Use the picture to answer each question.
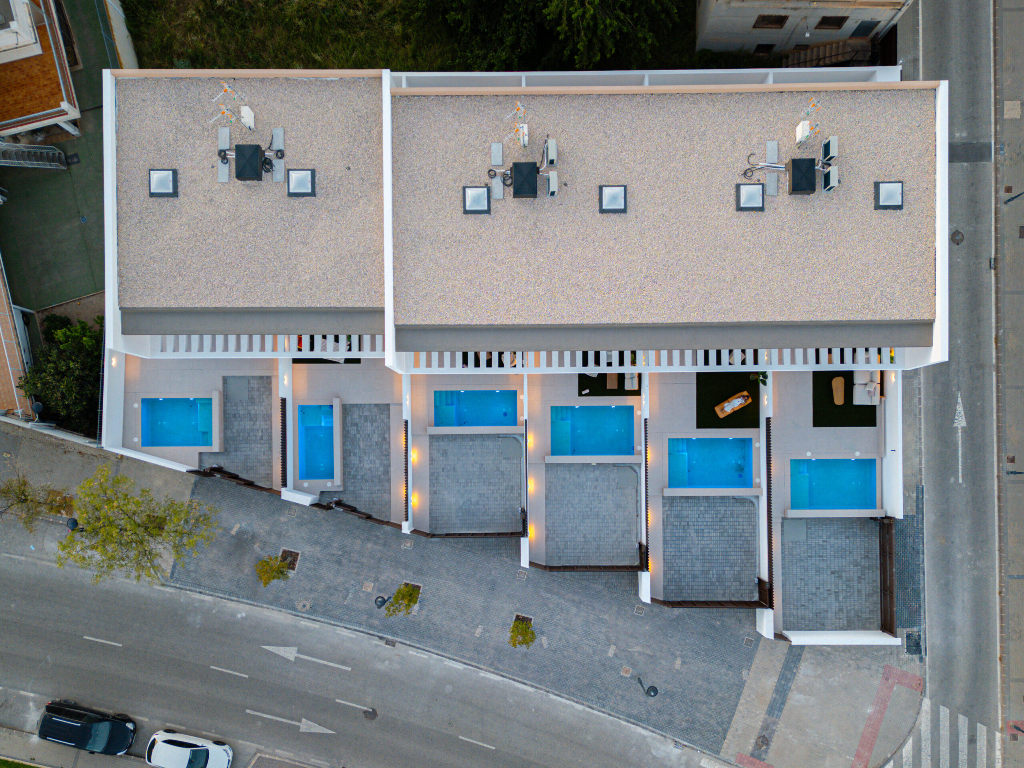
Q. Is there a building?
Yes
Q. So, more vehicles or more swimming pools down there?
swimming pools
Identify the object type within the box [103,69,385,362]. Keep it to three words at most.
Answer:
house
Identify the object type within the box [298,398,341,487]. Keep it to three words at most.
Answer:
swimming pool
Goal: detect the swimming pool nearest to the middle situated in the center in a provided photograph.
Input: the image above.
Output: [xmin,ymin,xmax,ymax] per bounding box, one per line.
[427,390,524,434]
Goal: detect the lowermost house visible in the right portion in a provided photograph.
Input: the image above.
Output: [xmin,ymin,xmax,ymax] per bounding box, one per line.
[382,69,948,377]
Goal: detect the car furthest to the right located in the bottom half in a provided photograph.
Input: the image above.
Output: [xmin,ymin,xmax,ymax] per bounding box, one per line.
[144,726,234,768]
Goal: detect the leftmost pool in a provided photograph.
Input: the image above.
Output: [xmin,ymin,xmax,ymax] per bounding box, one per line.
[133,391,224,452]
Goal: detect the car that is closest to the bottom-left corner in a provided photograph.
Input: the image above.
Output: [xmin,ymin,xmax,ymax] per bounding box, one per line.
[33,695,139,757]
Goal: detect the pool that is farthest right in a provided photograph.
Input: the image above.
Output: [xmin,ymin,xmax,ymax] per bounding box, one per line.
[786,451,885,517]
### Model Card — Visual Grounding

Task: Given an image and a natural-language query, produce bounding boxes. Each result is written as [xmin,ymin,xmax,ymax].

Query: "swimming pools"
[545,406,641,463]
[298,398,341,487]
[786,451,885,517]
[662,438,760,496]
[427,390,524,434]
[133,391,224,452]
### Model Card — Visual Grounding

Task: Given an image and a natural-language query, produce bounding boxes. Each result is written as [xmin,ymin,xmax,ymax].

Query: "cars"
[33,695,139,757]
[144,726,234,768]
[16,307,41,370]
